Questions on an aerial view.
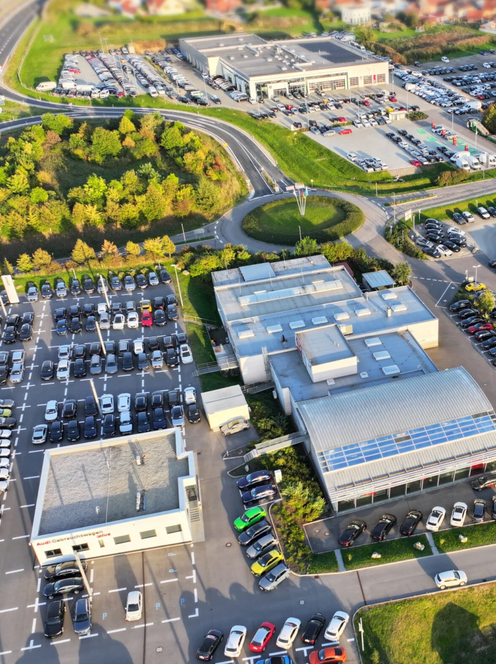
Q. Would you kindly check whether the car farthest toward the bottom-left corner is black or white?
black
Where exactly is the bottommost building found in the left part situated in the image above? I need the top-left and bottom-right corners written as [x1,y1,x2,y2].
[31,428,201,568]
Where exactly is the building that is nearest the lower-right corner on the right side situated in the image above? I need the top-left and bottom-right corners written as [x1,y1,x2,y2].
[294,364,496,514]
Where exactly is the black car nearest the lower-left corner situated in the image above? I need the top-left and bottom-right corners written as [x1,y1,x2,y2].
[42,601,66,640]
